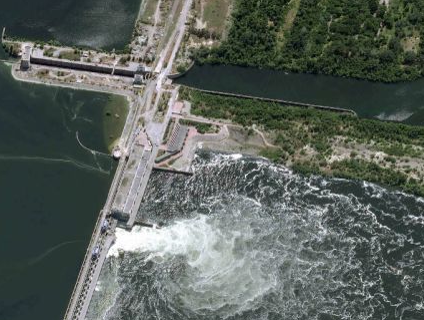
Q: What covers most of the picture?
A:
water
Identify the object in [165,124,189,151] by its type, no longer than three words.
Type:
building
